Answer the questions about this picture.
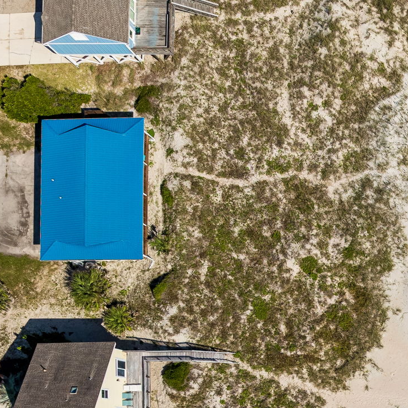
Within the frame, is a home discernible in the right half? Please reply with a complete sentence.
No, in the right half there is no home.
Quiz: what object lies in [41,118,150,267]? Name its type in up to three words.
house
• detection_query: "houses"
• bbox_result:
[12,343,128,408]
[43,0,142,68]
[41,118,150,267]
